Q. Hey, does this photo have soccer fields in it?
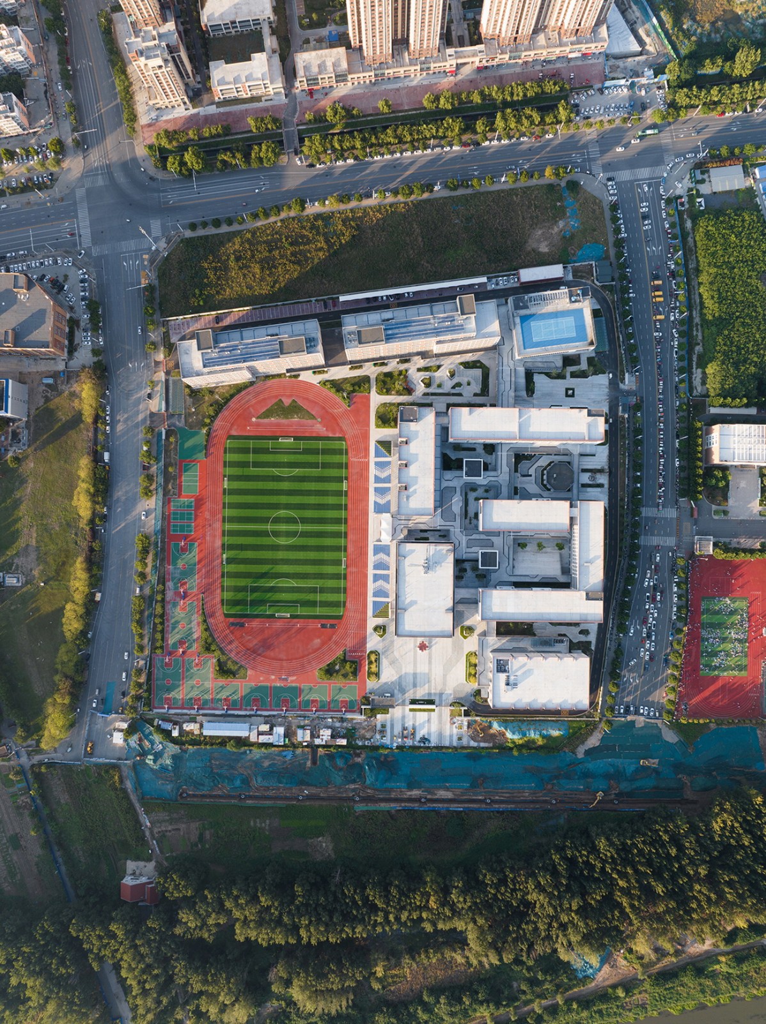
Yes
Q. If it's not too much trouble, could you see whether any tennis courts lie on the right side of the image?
Yes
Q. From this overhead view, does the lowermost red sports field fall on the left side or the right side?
right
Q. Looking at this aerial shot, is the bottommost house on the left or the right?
left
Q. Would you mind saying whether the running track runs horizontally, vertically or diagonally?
vertically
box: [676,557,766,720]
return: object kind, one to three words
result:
sports field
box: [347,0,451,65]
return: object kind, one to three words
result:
building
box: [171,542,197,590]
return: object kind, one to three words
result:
basketball court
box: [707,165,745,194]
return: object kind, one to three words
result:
building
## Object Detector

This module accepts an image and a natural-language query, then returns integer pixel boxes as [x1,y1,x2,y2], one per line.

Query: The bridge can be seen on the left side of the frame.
[283,121,298,165]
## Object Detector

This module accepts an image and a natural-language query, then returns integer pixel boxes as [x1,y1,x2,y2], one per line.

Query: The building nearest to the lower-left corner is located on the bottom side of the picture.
[121,874,161,901]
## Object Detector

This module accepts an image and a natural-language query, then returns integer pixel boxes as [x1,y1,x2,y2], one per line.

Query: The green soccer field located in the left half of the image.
[222,436,348,620]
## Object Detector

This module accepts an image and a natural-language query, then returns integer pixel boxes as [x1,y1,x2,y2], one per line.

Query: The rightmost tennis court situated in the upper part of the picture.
[519,309,588,350]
